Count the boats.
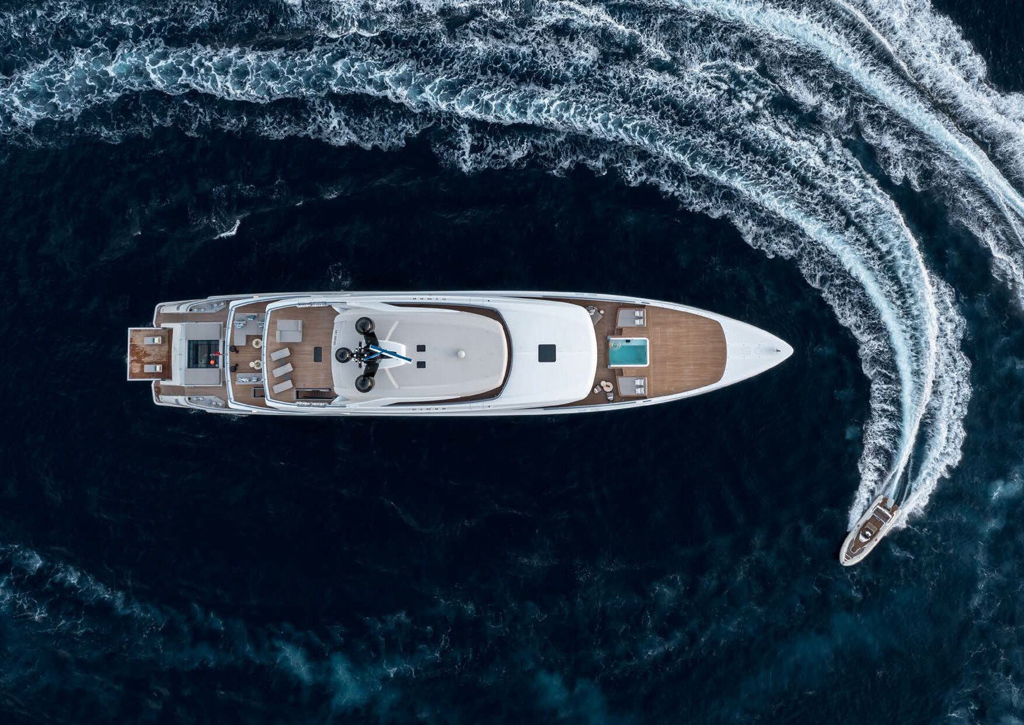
2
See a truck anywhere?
No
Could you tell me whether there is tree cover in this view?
No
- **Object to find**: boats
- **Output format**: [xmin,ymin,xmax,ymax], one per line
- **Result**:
[844,496,903,567]
[127,291,793,416]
